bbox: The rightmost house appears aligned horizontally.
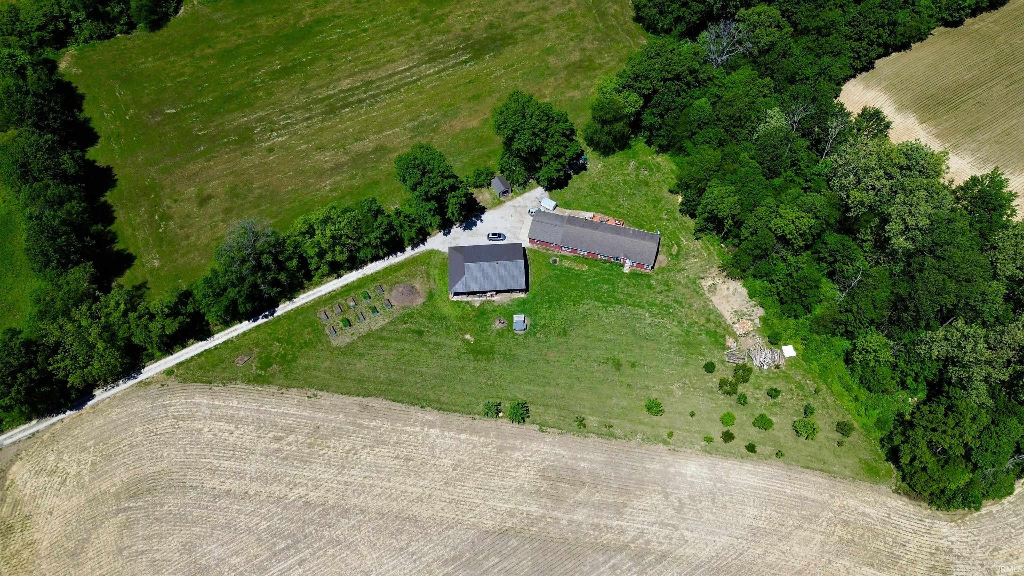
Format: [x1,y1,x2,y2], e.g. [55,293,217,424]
[528,210,660,273]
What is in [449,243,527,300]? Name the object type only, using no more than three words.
barn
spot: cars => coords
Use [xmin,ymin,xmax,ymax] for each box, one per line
[487,234,505,243]
[526,209,544,219]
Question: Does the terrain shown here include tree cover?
Yes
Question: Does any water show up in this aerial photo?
No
